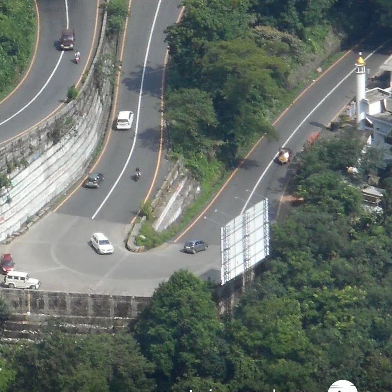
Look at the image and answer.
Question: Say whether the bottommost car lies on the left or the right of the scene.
left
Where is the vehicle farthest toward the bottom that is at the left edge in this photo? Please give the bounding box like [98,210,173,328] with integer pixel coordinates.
[1,265,42,289]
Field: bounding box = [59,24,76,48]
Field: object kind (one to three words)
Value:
car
